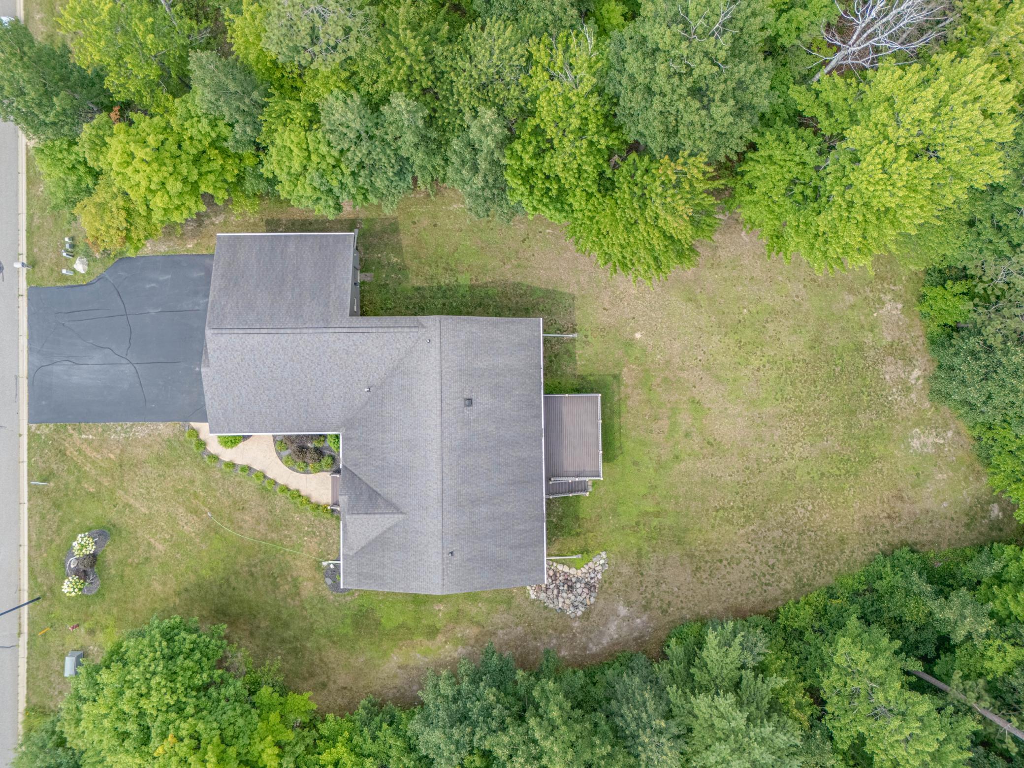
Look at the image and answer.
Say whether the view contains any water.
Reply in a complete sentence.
No, the scene doesn't show any water.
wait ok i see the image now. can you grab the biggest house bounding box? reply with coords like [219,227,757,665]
[202,229,581,595]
